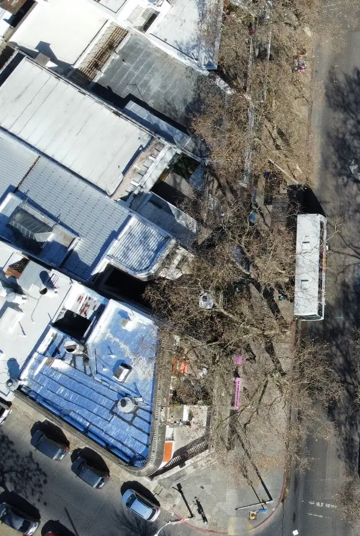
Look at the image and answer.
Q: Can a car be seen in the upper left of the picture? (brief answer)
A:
No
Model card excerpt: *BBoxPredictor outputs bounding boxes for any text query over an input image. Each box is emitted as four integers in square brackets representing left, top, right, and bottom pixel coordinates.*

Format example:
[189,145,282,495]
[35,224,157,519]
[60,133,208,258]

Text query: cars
[25,425,70,462]
[117,488,160,526]
[0,497,40,536]
[0,405,18,431]
[65,449,110,488]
